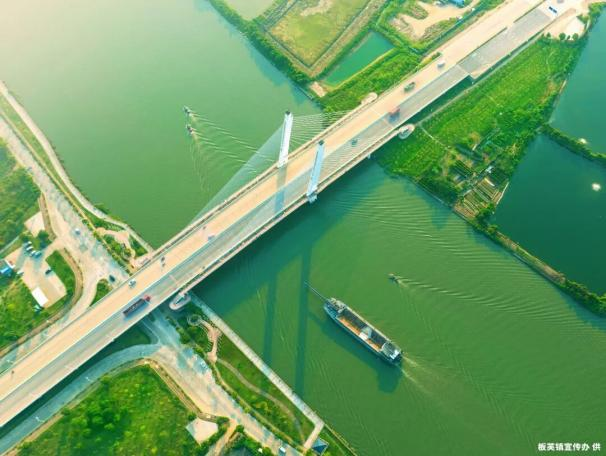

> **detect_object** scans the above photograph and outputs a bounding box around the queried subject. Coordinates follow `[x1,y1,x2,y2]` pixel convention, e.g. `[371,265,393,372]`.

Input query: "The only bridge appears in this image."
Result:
[0,57,465,426]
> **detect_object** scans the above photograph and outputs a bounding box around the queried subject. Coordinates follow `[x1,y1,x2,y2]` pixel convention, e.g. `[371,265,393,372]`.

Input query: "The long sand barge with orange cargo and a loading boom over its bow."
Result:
[302,278,403,364]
